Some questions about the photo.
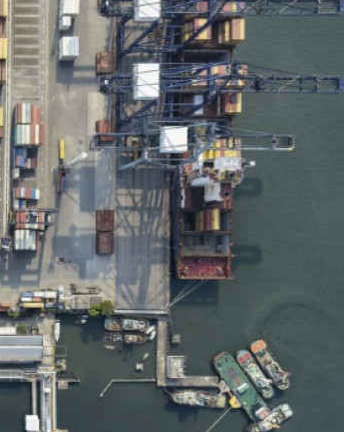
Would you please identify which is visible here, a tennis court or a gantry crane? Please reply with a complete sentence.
Visible in the photo is a gantry crane.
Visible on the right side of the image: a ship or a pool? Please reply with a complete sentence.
What appears on the right side of the image is a ship.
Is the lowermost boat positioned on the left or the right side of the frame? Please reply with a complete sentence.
You can find the lowermost boat on the right side of the picture.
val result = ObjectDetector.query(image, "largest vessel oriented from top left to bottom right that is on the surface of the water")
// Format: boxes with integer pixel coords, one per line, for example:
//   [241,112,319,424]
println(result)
[215,353,268,419]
